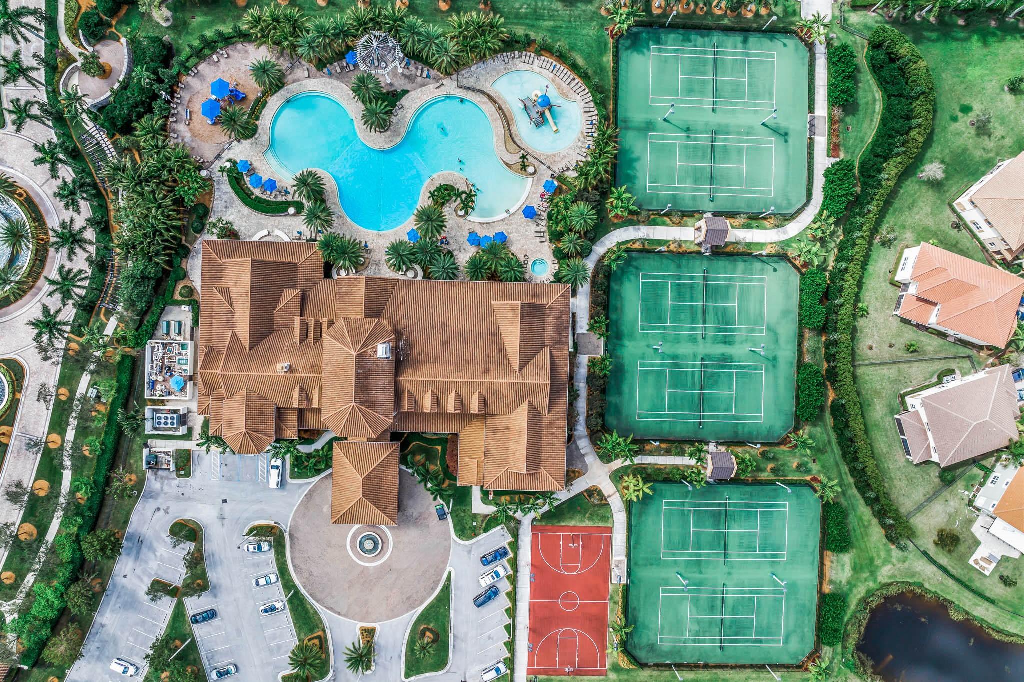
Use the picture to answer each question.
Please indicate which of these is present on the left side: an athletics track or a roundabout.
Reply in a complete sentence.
It is a roundabout that can be seen on the left side.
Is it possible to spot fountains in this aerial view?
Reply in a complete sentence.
Yes, this view includes a fountain.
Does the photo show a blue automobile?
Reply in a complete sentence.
Yes, a blue automobile can be made out from above.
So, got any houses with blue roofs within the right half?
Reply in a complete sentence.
No, looking within the right half, there is no house with a blue roof.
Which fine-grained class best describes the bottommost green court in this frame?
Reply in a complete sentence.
Specifically, the bottommost green court is a tennis court.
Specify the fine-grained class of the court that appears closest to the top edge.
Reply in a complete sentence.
It turns out the court that appears closest to the top edge is a tennis court.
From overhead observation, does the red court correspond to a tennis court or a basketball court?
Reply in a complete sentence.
The red court appears to be a basketball court.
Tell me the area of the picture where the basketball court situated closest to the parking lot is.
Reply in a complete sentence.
The basketball court situated closest to the parking lot is located in the bottom region of the scene.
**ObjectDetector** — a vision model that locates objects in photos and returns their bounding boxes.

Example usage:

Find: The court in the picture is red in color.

[528,525,612,676]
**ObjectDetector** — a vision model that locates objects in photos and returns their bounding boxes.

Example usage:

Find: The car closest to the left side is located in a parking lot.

[107,660,136,677]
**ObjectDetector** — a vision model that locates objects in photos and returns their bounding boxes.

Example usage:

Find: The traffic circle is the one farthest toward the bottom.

[0,350,30,504]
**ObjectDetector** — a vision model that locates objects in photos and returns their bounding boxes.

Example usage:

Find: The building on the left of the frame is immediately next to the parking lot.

[198,240,571,526]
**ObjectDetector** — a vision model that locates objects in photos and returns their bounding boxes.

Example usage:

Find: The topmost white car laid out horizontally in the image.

[243,542,270,554]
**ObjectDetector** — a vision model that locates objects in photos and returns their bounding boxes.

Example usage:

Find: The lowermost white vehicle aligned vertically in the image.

[268,460,281,489]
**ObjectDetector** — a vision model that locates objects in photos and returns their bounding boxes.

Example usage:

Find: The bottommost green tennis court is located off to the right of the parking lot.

[626,573,818,664]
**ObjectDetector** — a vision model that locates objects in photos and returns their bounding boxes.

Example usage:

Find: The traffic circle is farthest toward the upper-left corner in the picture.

[0,168,61,321]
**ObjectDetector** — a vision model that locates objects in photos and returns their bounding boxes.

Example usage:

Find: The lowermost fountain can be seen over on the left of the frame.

[346,525,392,567]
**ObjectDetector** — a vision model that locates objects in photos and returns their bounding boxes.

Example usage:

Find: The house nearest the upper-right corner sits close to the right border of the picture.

[957,145,1024,264]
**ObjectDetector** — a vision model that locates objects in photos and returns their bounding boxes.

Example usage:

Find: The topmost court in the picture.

[617,28,809,125]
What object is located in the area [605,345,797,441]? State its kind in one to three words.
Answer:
tennis court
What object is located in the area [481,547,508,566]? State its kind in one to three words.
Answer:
car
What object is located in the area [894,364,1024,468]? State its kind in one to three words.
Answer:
house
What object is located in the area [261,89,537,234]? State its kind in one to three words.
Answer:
swimming pool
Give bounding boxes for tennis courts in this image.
[605,345,797,441]
[626,573,818,664]
[628,484,820,574]
[617,28,809,125]
[608,253,799,350]
[615,119,808,214]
